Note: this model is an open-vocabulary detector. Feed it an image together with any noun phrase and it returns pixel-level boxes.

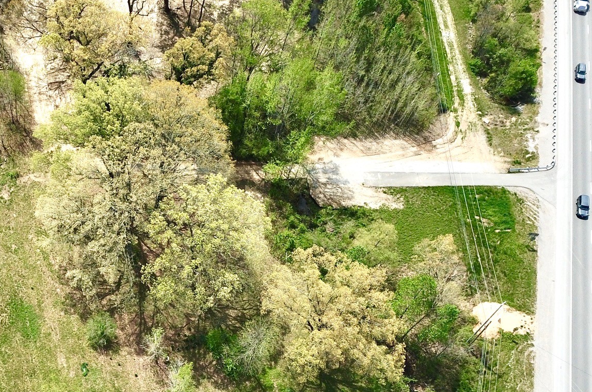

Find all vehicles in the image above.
[576,60,588,81]
[577,192,591,217]
[575,0,592,13]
